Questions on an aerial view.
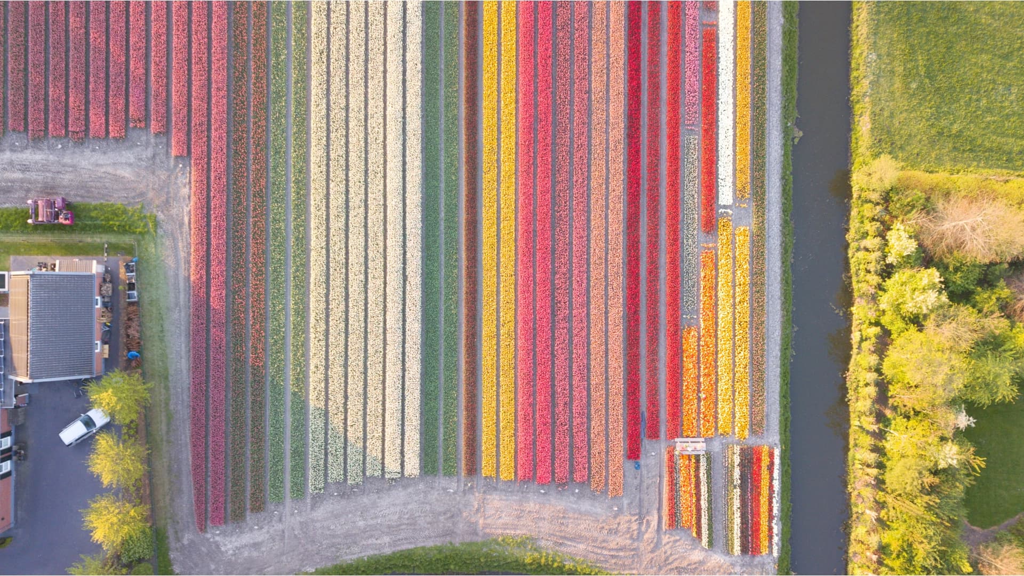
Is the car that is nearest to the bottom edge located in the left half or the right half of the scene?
left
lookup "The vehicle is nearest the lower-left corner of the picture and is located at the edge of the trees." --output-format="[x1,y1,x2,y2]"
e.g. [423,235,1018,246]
[57,407,115,449]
